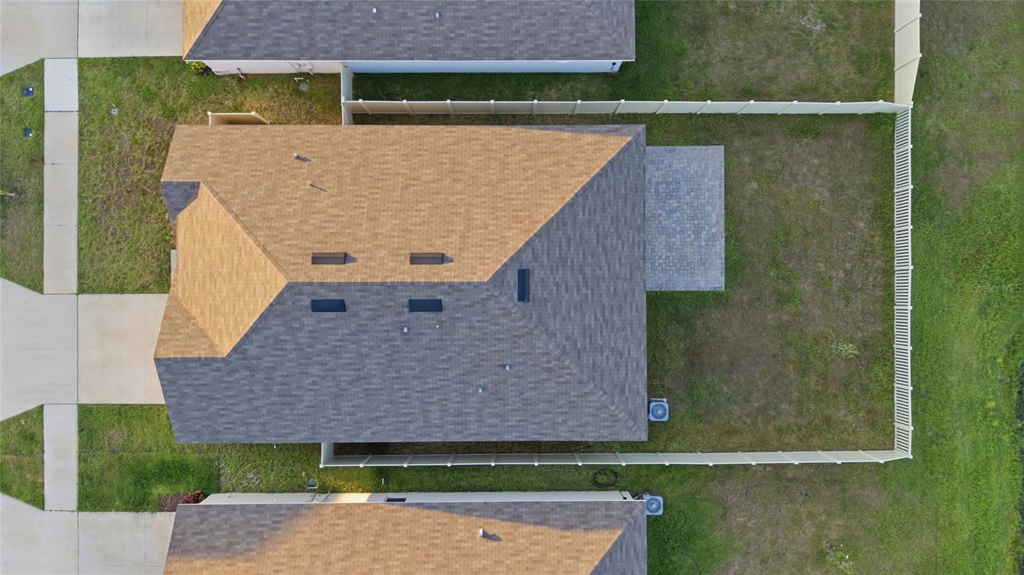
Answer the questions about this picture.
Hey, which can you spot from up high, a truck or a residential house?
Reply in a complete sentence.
It is a residential house that can be seen here.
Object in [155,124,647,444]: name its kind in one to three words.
house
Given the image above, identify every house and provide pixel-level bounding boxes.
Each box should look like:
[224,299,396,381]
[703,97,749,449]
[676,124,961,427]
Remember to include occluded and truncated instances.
[182,0,635,82]
[155,124,647,444]
[160,484,646,575]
